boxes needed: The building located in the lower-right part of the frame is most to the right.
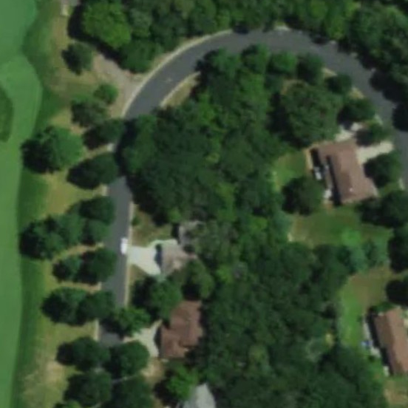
[373,305,408,377]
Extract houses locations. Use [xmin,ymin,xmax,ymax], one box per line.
[161,223,191,270]
[178,383,222,408]
[373,305,408,377]
[316,139,378,206]
[160,302,203,359]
